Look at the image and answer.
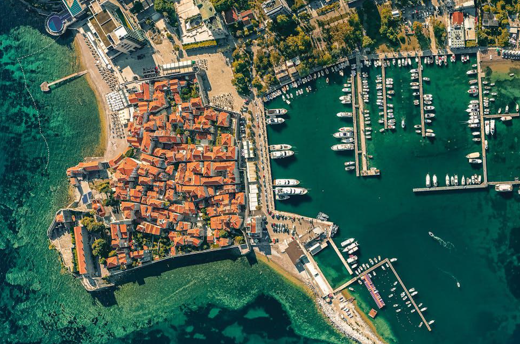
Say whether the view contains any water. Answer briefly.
Yes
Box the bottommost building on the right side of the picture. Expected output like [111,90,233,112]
[305,261,333,296]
